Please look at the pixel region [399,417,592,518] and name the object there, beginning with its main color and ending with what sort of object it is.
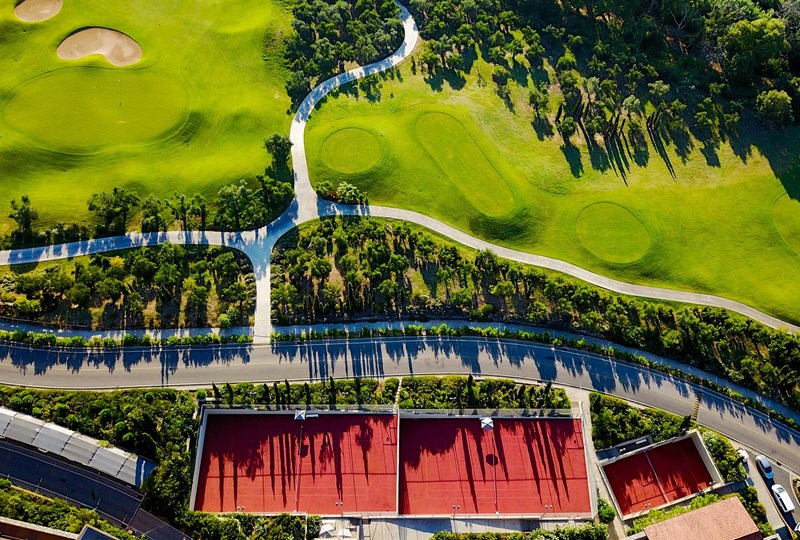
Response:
red tennis court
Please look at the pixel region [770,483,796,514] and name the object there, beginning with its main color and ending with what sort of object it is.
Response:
white vehicle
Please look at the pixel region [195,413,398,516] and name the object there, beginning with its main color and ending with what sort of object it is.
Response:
red tennis court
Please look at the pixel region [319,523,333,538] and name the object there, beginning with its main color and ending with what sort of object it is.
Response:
white umbrella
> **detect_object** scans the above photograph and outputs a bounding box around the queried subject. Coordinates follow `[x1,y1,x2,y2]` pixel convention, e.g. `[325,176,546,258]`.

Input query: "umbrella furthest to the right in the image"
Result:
[480,417,494,431]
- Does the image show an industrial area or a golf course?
golf course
